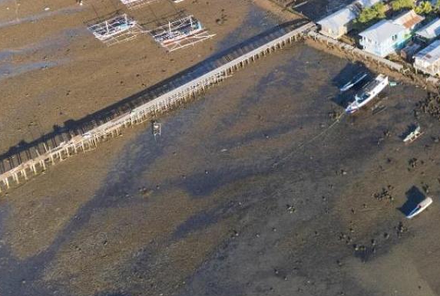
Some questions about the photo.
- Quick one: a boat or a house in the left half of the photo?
boat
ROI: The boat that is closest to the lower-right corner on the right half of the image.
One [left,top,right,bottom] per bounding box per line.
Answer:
[406,192,433,217]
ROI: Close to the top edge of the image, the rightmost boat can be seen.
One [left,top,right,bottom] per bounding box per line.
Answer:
[146,10,219,59]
